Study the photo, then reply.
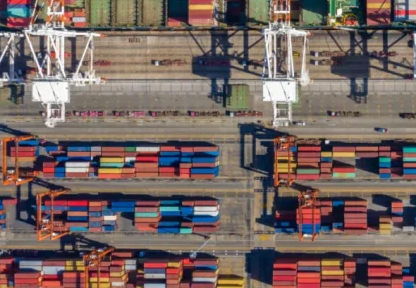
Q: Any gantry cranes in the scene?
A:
Yes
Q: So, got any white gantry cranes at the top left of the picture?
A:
Yes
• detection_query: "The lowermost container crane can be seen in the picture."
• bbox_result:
[82,242,116,288]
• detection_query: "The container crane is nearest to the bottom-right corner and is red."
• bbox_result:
[295,187,322,239]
